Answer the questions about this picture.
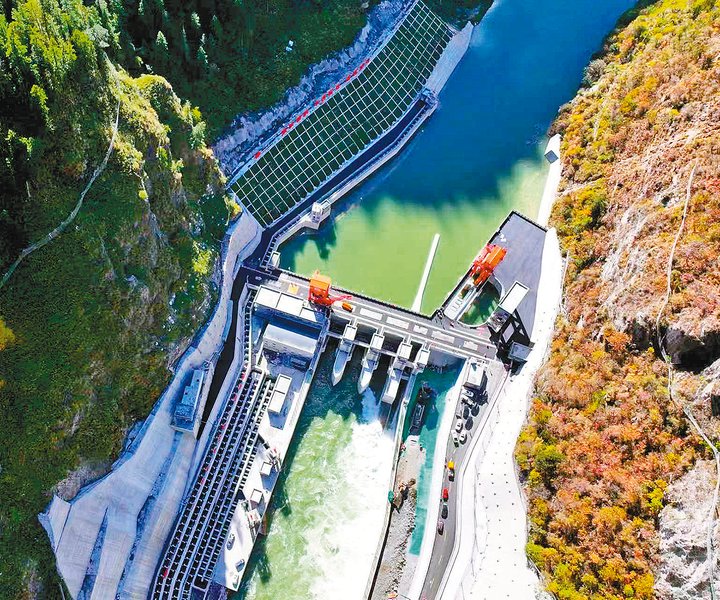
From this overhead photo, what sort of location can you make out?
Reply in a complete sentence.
What you see here is a port.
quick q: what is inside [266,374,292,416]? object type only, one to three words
building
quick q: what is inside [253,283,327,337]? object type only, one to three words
building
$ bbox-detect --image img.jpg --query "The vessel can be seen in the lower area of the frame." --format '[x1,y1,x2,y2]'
[409,400,425,435]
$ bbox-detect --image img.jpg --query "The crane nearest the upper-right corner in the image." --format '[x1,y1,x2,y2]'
[467,243,508,290]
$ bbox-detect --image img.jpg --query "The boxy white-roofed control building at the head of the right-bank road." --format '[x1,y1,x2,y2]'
[463,359,487,389]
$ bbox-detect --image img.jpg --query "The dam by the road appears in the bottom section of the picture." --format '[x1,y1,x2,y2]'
[240,263,500,600]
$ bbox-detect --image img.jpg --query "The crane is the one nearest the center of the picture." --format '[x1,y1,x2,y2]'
[304,268,356,311]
